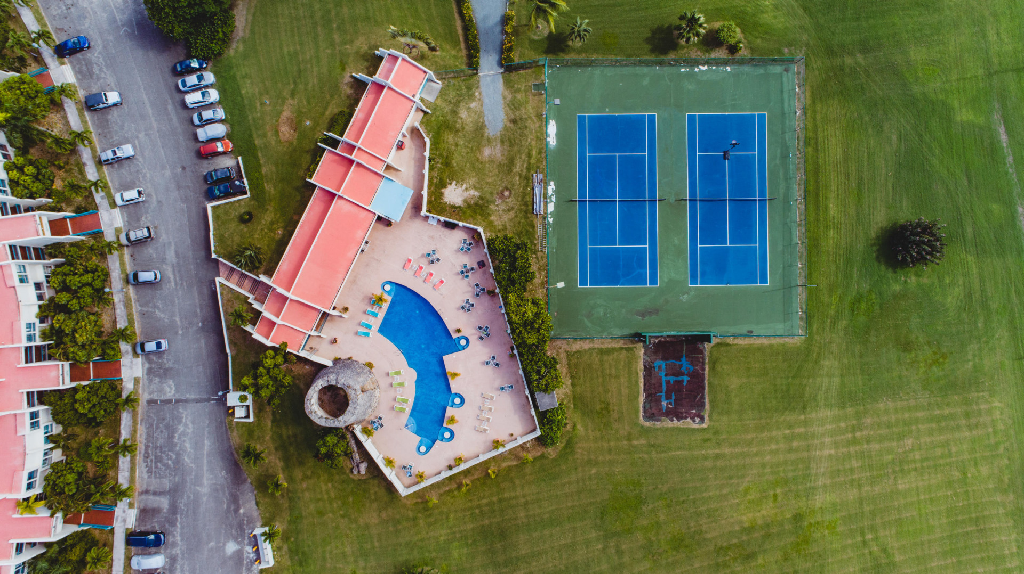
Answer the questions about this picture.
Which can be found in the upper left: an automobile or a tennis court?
automobile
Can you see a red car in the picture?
Yes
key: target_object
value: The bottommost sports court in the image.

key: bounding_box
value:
[643,341,708,424]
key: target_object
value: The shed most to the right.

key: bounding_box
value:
[535,390,559,412]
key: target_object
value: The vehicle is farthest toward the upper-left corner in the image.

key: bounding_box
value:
[56,37,89,57]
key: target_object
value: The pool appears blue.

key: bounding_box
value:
[378,281,471,456]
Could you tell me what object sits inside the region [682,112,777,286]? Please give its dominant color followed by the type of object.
blue tennis court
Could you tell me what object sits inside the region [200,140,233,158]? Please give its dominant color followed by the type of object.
red car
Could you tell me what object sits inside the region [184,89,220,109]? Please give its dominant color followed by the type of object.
white car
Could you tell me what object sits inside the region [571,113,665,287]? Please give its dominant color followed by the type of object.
blue tennis court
